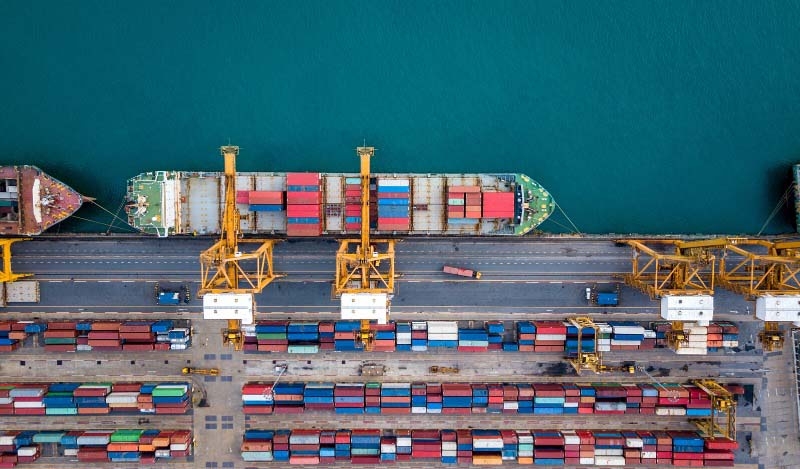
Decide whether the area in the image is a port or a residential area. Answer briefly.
port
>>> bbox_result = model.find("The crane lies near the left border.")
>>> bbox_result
[0,241,32,285]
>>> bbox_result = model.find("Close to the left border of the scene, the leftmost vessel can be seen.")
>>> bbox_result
[0,165,100,237]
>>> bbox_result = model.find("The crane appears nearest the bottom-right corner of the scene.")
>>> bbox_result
[688,379,737,442]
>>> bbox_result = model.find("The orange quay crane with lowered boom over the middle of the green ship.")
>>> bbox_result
[330,137,409,345]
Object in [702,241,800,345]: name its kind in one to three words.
container crane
